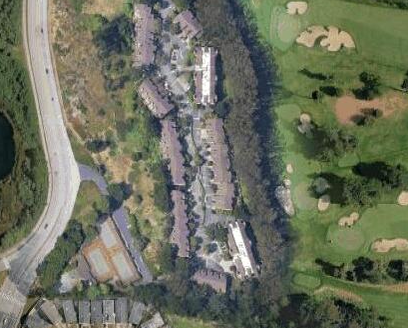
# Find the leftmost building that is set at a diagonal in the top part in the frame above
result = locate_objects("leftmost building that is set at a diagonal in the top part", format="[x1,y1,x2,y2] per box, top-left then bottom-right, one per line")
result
[139,81,174,117]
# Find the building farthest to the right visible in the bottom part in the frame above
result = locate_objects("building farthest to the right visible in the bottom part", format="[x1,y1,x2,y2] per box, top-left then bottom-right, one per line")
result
[227,223,256,276]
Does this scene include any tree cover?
Yes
